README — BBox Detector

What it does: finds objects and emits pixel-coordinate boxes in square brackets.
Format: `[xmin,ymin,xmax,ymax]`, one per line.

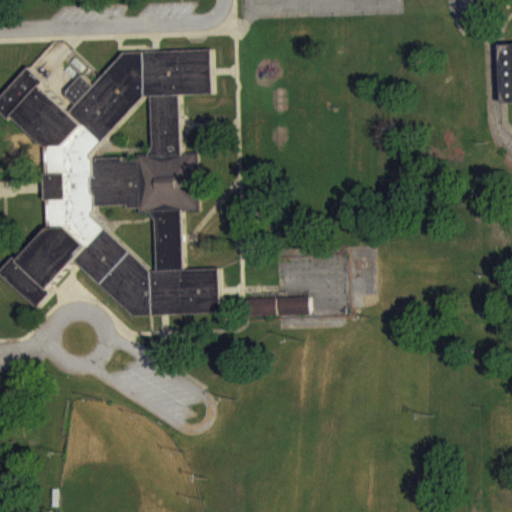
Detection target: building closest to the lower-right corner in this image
[278,296,310,316]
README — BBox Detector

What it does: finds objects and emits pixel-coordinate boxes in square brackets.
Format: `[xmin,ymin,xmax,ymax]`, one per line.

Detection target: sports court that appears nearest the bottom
[281,316,346,330]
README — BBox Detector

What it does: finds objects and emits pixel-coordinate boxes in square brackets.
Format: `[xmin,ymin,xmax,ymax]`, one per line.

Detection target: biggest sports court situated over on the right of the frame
[280,256,348,315]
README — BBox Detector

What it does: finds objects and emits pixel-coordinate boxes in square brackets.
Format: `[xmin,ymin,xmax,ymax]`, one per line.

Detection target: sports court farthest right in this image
[352,248,378,308]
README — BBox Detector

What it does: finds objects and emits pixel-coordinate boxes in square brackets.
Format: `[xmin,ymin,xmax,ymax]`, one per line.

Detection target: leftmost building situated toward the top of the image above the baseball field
[0,50,222,316]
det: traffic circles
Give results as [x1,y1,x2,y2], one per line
[0,302,141,384]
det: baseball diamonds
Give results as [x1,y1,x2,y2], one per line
[58,401,199,512]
